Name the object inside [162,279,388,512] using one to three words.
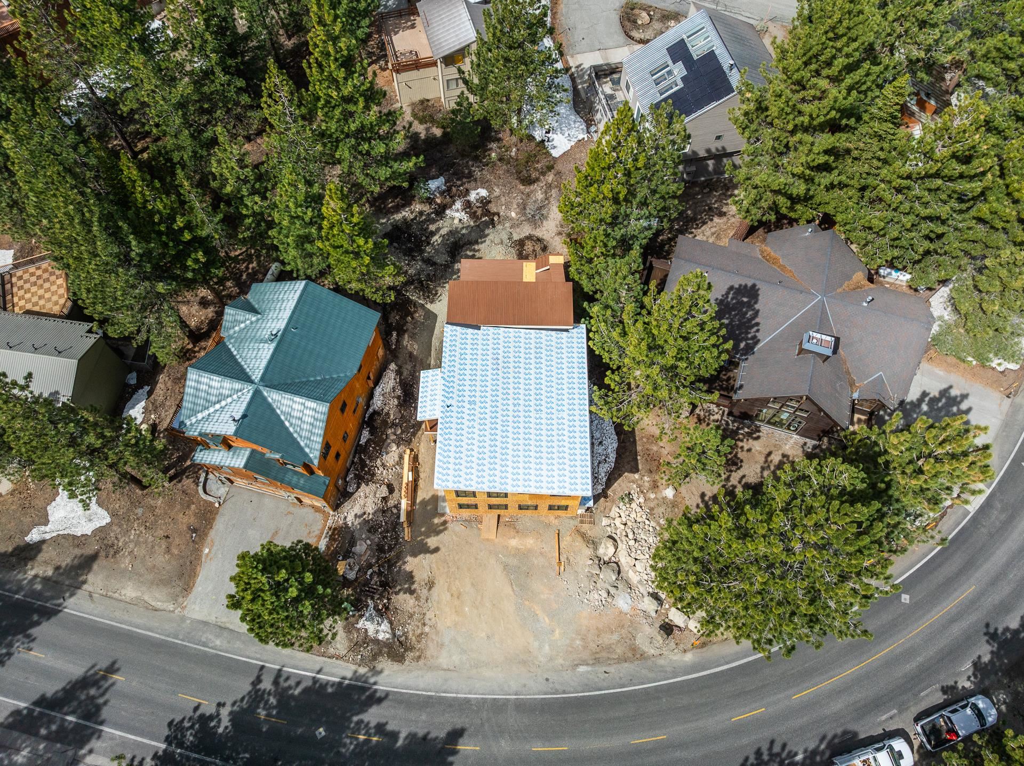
house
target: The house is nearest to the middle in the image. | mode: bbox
[417,294,593,519]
